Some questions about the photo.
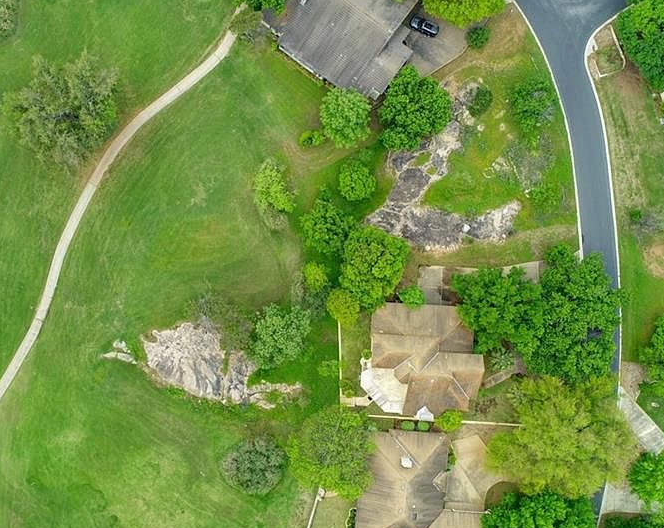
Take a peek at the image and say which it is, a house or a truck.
house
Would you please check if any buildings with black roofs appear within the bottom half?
No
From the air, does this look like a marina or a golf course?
golf course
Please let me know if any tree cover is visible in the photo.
Yes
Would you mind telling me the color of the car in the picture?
black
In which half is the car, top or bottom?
top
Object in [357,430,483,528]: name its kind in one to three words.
house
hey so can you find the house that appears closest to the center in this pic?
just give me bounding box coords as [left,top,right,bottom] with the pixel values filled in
[372,303,484,421]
